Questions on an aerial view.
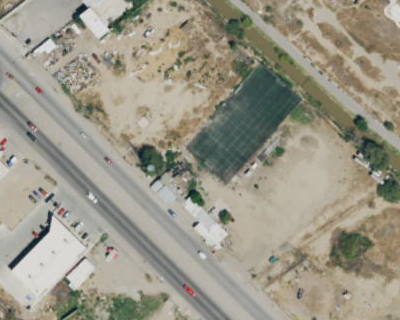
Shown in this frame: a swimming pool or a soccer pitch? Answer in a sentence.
The one in the frame is a soccer pitch.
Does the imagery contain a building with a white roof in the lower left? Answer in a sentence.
Yes, looking in the lower left, one can make out a building with a white roof.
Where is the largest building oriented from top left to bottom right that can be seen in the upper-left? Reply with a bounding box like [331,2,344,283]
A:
[80,8,108,38]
